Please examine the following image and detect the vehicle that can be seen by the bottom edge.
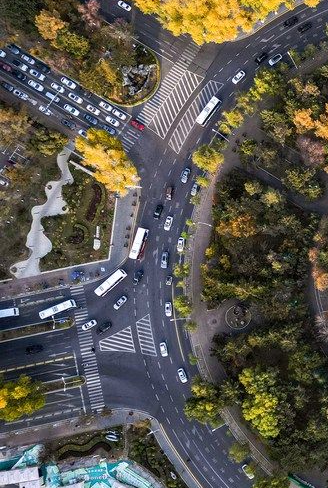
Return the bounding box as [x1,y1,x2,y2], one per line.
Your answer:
[241,465,254,478]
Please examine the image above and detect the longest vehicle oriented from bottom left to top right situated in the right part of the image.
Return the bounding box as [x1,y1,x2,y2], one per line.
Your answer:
[195,94,227,129]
